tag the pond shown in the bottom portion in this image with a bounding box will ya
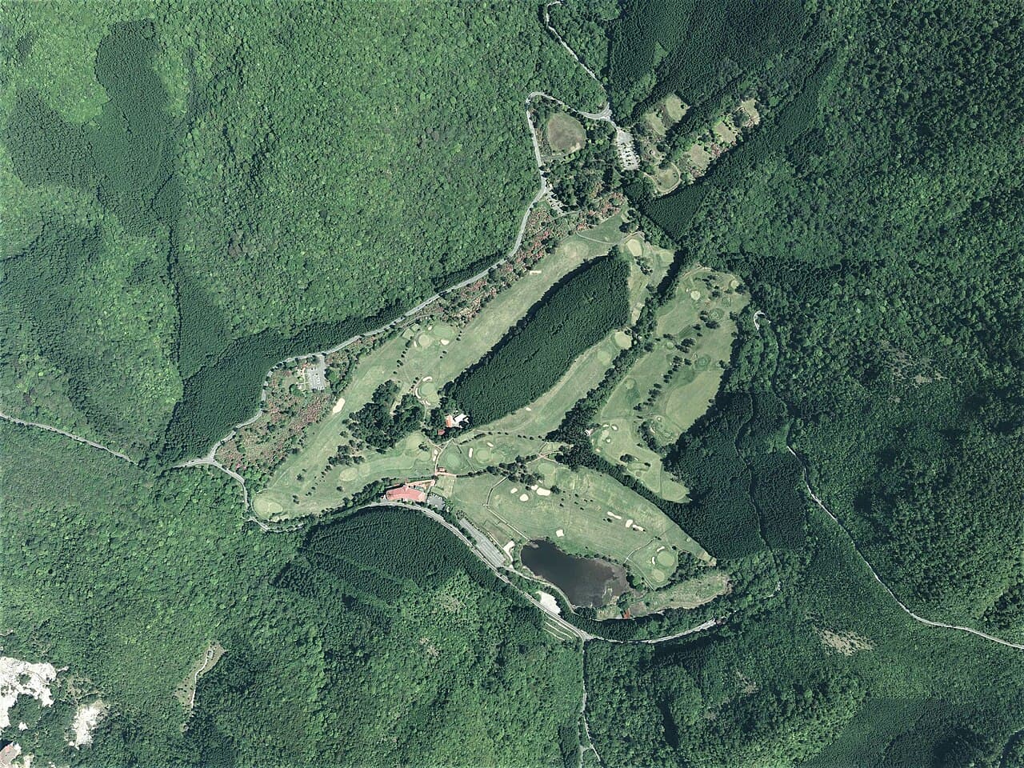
[523,541,626,606]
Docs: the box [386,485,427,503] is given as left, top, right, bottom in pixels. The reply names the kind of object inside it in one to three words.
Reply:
building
